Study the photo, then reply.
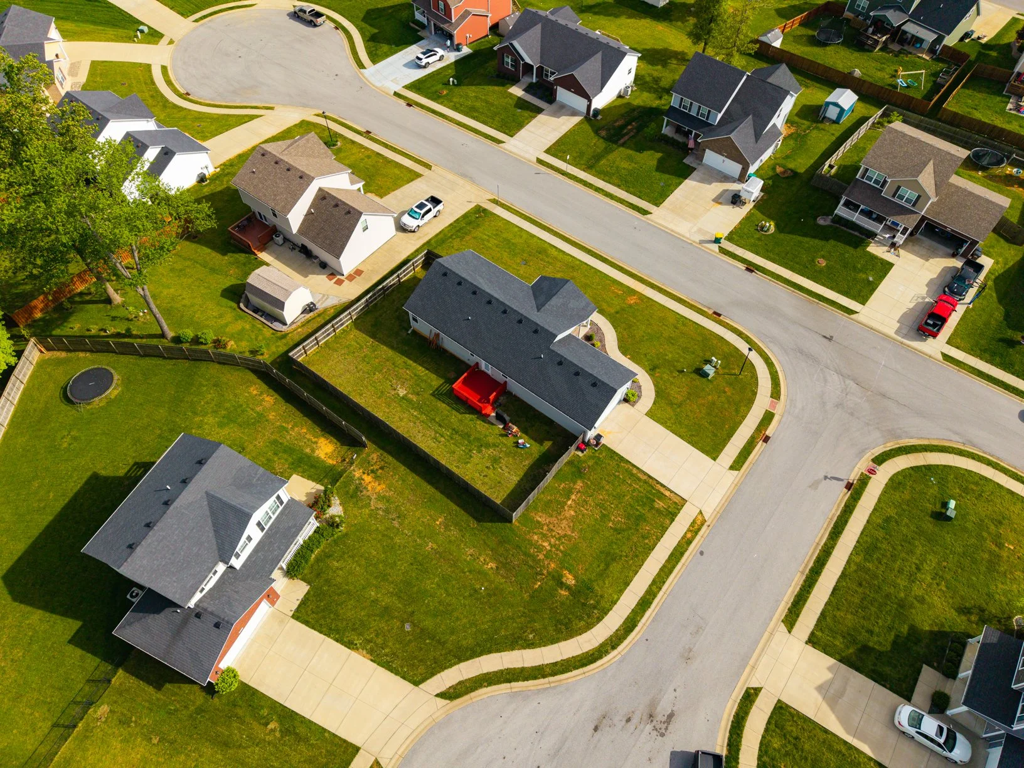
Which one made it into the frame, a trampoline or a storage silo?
trampoline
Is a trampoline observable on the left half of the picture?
Yes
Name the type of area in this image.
residential area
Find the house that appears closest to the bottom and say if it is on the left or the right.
right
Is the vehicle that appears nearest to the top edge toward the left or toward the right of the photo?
left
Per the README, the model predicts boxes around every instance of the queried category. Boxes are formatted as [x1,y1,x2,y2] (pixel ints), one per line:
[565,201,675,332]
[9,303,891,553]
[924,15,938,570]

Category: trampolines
[968,146,1010,175]
[813,20,849,51]
[67,367,121,408]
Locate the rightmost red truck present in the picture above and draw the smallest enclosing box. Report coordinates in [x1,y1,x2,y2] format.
[922,292,963,335]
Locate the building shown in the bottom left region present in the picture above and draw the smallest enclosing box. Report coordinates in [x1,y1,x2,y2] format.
[81,434,320,687]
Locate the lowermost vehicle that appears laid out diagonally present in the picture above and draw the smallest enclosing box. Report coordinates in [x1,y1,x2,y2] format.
[899,704,976,768]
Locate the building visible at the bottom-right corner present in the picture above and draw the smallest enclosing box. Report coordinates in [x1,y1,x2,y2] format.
[945,624,1024,768]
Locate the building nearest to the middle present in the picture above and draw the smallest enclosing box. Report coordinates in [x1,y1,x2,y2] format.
[403,251,645,443]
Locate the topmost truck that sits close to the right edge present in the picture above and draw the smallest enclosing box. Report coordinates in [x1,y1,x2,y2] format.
[949,253,988,295]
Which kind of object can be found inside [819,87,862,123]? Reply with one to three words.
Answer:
shed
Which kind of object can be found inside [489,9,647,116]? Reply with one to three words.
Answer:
house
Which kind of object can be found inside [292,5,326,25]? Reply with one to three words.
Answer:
vehicle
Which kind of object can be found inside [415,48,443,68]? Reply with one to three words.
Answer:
car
